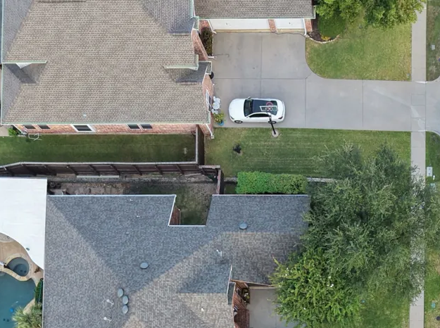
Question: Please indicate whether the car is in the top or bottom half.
top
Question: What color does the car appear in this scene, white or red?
white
